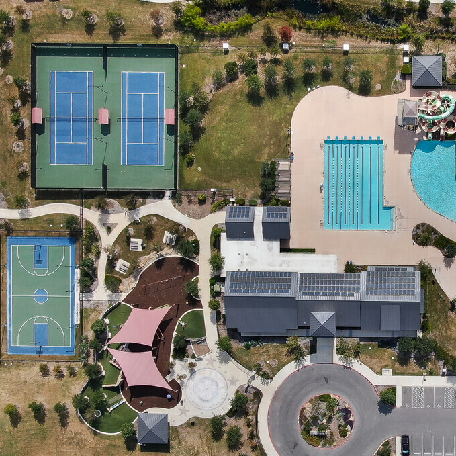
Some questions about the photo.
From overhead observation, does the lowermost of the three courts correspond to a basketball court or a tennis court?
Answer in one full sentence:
From above, the lowermost of the three courts can be identified as a basketball court.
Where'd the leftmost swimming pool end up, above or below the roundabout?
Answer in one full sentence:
It's above the roundabout that the leftmost swimming pool shows up.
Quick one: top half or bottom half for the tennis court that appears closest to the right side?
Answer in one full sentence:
Seen from above, the tennis court that appears closest to the right side lies in the top half of the view.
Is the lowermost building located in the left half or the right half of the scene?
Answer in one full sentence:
The lowermost building is on the left side of the image.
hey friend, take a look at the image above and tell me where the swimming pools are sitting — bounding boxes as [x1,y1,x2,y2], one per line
[410,140,456,223]
[321,136,395,231]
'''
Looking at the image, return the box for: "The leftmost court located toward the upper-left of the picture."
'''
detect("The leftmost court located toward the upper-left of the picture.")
[36,47,105,188]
